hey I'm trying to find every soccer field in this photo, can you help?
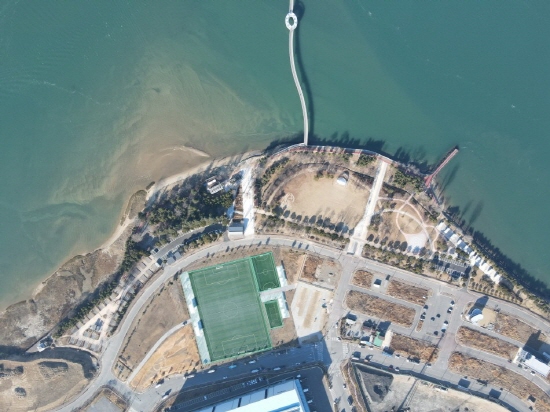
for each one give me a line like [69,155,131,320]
[265,300,284,329]
[251,252,280,291]
[189,258,271,363]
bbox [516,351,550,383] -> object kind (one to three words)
building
